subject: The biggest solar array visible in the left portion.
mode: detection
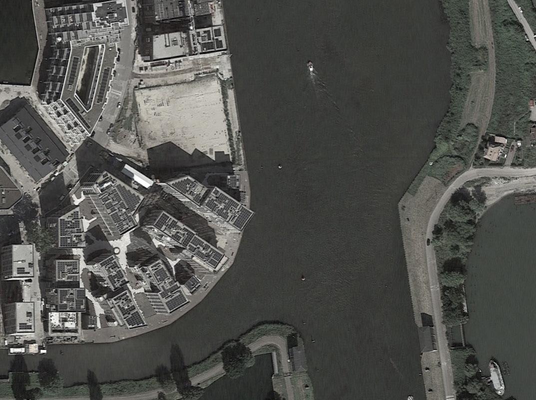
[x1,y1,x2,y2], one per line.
[99,176,139,227]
